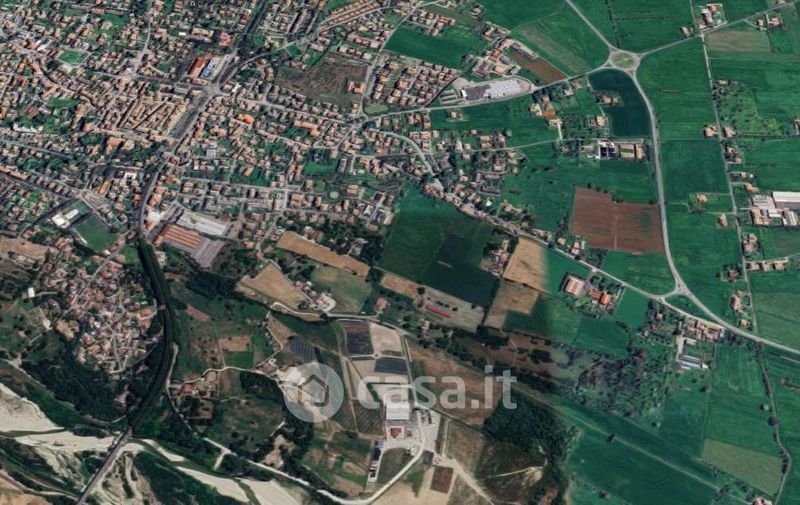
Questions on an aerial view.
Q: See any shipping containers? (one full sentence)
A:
No, I can't see a single shipping container in this photo.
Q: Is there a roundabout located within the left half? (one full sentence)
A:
No, no roundabout appears within the left half.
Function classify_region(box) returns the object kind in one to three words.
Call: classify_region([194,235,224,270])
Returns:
building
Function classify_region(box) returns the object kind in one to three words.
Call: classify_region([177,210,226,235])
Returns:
building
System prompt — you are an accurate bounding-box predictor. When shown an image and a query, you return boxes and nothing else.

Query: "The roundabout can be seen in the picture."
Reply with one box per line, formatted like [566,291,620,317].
[592,41,652,86]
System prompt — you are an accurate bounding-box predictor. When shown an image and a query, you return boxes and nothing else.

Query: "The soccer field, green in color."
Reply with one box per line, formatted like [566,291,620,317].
[75,213,119,251]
